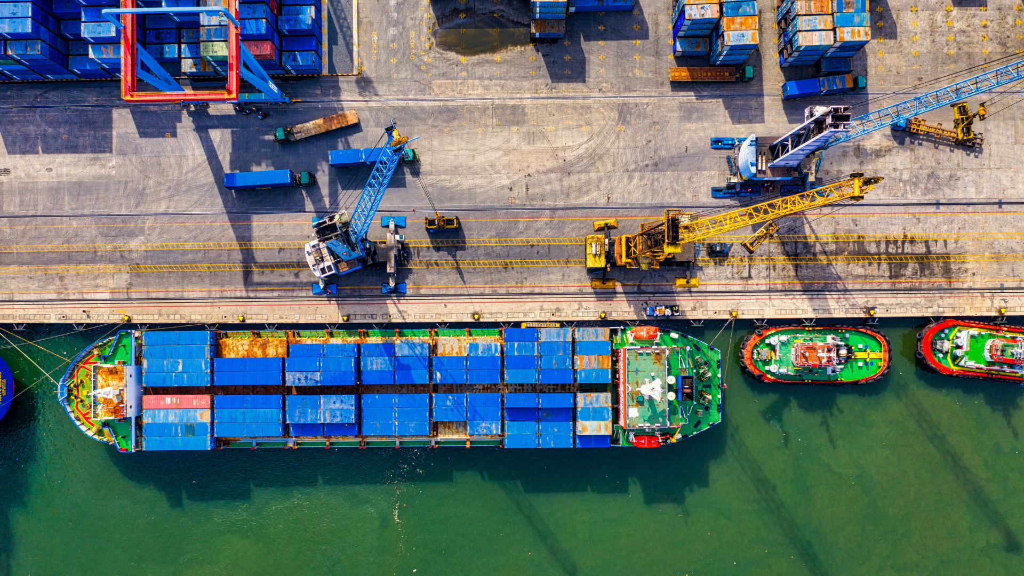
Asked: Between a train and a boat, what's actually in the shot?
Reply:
boat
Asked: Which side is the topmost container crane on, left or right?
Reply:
left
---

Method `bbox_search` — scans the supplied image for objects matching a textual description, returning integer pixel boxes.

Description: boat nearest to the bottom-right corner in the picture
[914,318,1024,383]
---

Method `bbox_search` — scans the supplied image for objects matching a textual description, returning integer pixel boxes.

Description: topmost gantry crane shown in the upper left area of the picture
[103,0,321,110]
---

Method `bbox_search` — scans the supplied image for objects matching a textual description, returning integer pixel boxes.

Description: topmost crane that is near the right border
[710,43,1024,198]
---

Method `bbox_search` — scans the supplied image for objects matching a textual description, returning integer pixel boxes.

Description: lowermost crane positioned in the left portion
[303,117,437,295]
